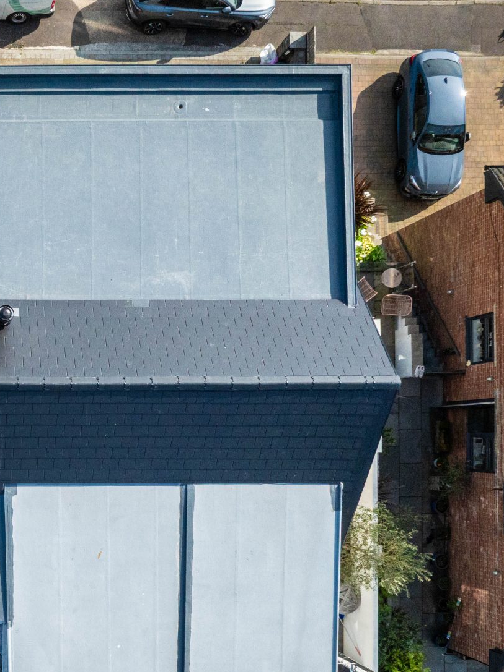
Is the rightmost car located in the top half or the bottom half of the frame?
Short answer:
top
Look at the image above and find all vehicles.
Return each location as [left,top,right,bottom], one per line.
[389,43,478,207]
[123,0,278,34]
[0,0,55,21]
